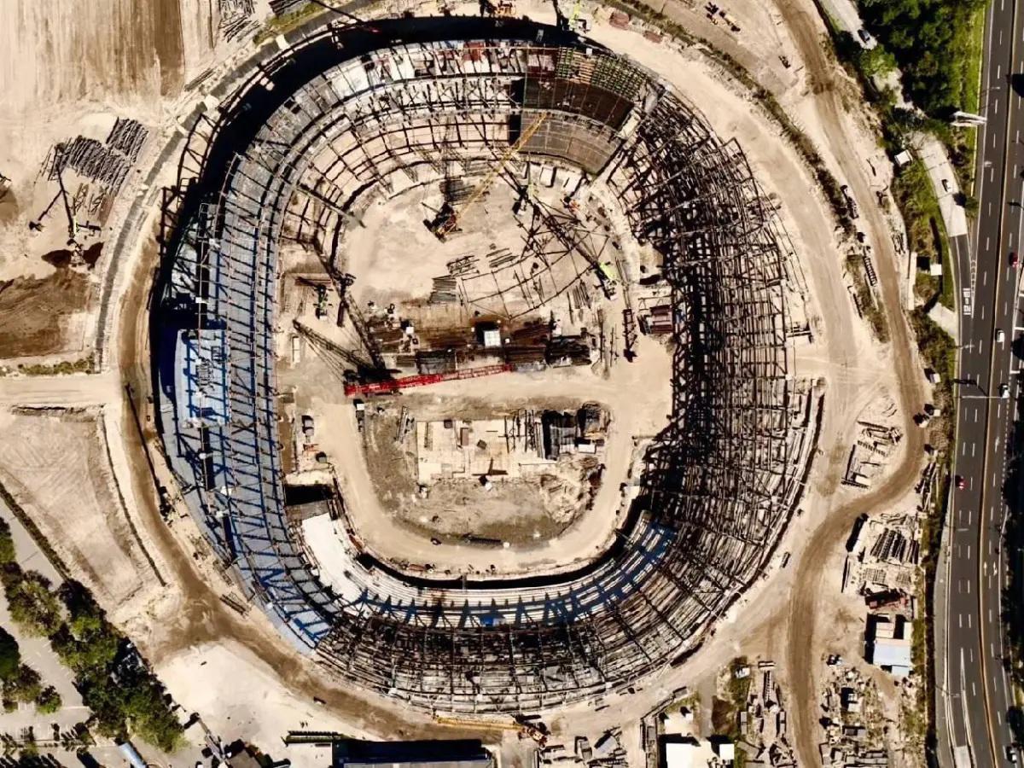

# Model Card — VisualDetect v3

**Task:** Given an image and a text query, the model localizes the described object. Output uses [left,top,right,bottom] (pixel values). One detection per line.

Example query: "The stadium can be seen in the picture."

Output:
[166,36,824,714]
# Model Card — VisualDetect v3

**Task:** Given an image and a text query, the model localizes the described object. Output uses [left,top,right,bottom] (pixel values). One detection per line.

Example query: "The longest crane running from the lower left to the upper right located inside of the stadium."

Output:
[422,111,549,243]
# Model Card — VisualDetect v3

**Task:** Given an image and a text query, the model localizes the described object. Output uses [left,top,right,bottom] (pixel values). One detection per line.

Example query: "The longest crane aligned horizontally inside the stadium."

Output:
[343,362,517,394]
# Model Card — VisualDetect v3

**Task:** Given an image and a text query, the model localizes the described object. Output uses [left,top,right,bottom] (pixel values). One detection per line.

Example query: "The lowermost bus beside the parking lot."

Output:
[120,746,147,768]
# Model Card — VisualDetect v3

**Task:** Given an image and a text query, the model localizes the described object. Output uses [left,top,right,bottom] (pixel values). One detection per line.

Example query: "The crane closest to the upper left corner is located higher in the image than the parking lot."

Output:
[63,212,98,250]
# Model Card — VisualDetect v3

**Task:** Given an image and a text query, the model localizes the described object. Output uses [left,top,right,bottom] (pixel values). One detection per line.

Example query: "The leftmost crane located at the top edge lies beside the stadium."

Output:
[308,0,395,42]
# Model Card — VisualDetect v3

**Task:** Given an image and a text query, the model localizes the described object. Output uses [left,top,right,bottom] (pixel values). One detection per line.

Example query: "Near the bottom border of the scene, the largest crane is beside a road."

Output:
[432,714,550,746]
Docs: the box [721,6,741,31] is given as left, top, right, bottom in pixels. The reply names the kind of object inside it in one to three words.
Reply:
vehicle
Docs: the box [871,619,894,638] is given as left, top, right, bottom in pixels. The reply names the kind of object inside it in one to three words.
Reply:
building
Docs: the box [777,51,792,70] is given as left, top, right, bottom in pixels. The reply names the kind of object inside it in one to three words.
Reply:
vehicle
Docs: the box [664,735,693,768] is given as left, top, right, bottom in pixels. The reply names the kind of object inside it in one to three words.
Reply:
building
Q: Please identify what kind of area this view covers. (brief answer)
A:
sports ground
